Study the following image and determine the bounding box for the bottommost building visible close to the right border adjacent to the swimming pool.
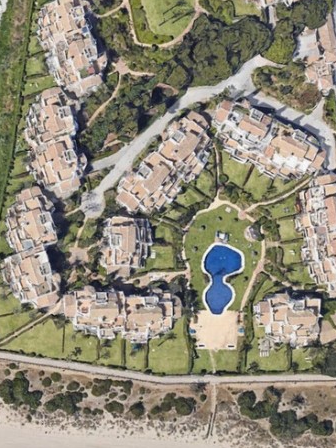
[253,294,325,343]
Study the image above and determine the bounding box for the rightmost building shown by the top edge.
[302,21,336,92]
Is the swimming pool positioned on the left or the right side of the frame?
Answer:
right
